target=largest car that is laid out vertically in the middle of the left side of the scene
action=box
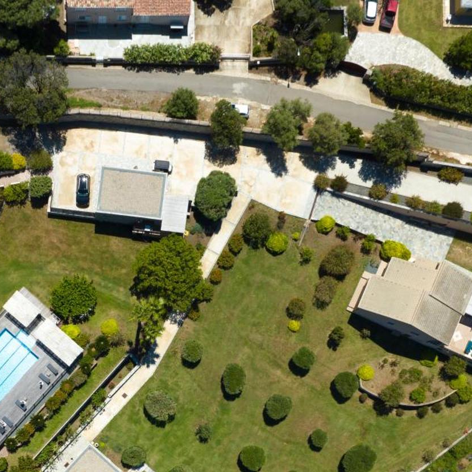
[74,174,91,209]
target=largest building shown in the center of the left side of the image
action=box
[47,167,168,227]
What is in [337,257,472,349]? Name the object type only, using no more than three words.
house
